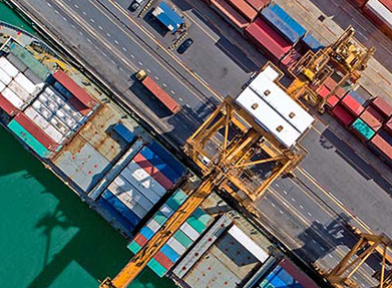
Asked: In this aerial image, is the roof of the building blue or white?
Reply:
blue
